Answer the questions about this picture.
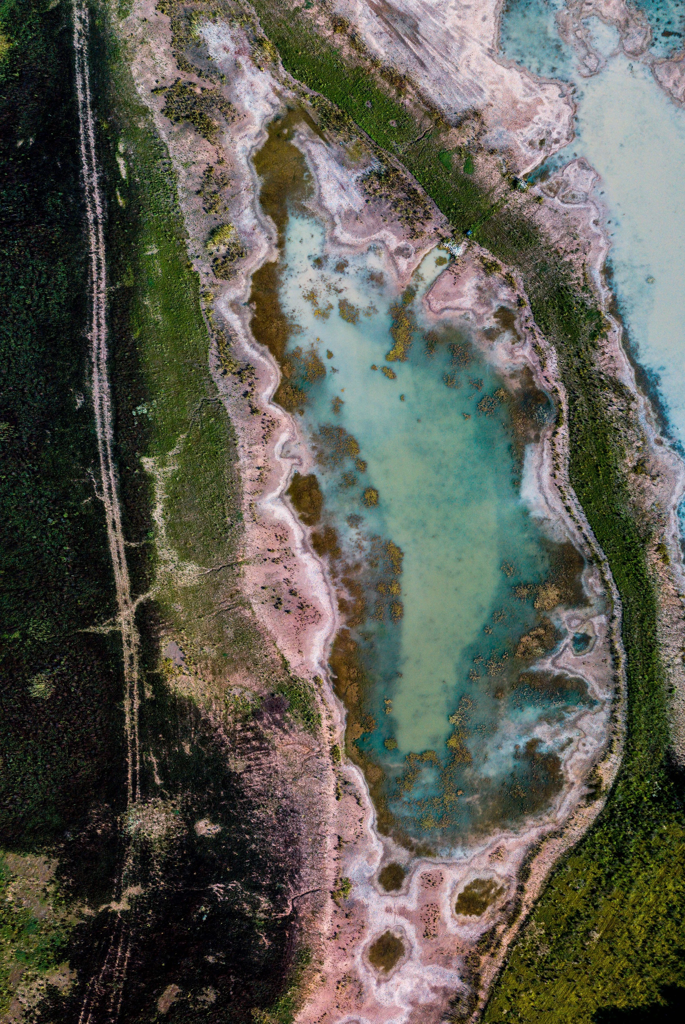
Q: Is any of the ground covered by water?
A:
Yes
